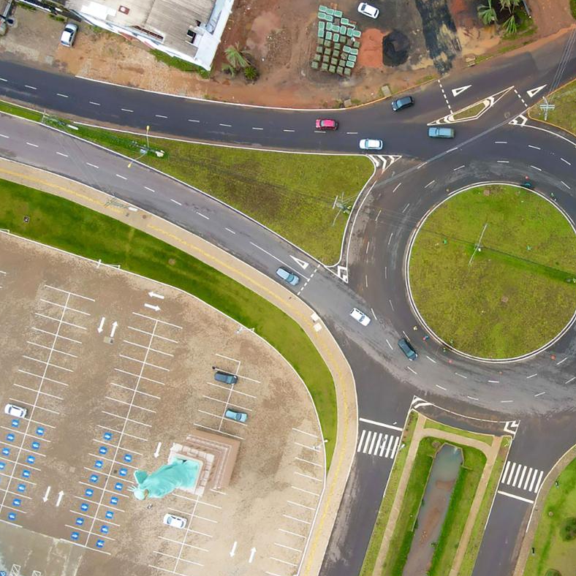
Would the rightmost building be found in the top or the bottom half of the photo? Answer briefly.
top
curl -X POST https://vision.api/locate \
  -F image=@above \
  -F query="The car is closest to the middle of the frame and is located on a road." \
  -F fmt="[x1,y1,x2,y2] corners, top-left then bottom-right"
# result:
[274,267,298,284]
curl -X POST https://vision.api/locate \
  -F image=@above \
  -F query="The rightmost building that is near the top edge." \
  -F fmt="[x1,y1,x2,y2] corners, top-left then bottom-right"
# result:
[66,0,241,74]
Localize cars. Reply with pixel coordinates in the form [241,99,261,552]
[212,371,236,384]
[390,95,413,110]
[359,138,381,149]
[314,118,336,129]
[428,126,453,138]
[397,337,416,360]
[274,267,298,284]
[347,308,370,325]
[163,516,185,528]
[356,1,380,18]
[58,21,75,47]
[2,405,26,418]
